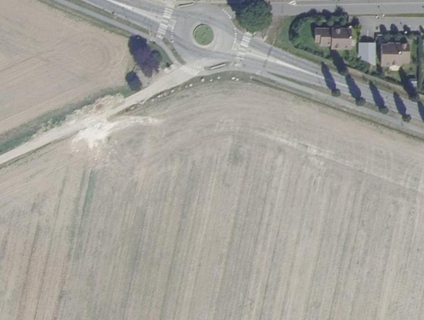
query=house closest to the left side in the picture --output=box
[314,26,352,50]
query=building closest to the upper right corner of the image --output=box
[382,42,410,68]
